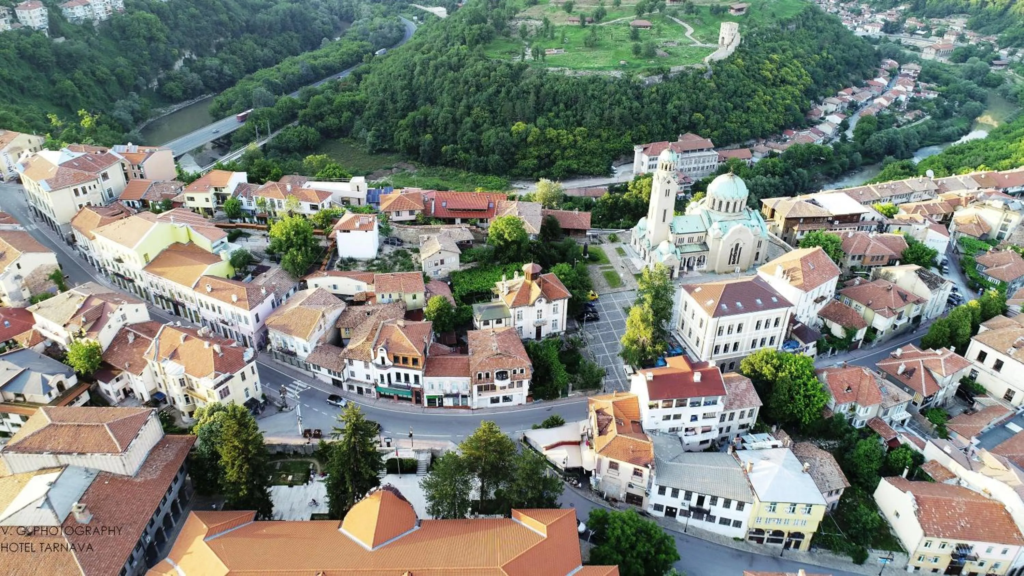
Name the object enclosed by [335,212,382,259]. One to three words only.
house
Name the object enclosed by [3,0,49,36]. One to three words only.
building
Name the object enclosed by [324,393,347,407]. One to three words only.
car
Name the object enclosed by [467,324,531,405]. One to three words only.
house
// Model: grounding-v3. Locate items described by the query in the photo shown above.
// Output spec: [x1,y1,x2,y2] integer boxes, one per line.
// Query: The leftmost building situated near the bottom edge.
[0,406,208,576]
